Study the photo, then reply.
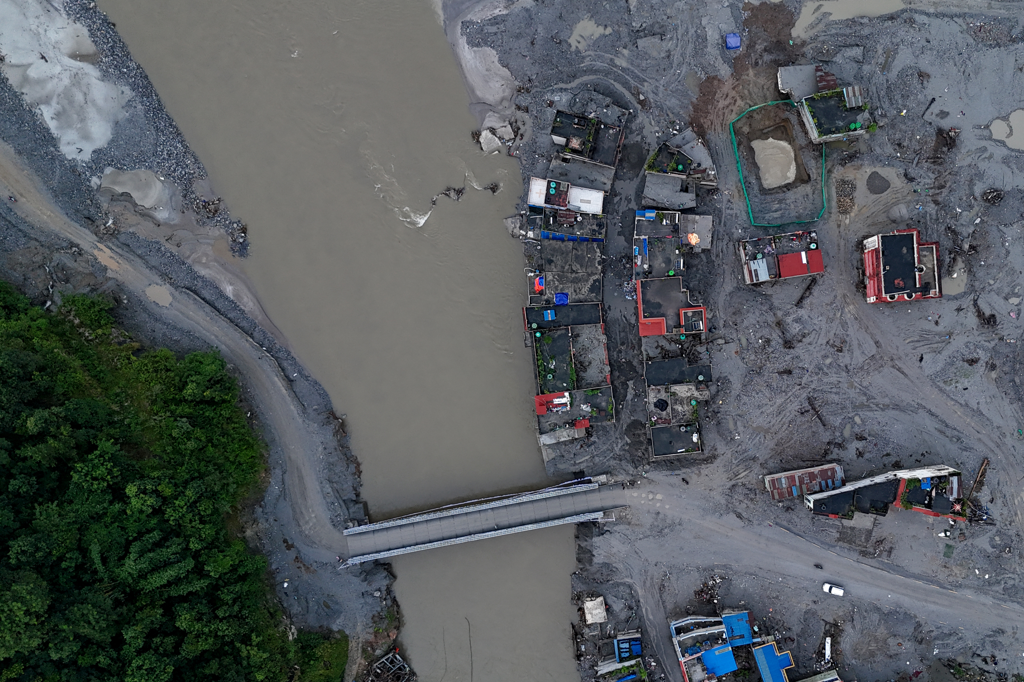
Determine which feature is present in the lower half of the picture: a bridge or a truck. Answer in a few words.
bridge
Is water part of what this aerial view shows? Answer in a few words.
Yes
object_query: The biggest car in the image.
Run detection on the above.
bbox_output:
[824,584,846,599]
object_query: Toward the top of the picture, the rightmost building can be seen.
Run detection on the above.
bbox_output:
[852,228,943,304]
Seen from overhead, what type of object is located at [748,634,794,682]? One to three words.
house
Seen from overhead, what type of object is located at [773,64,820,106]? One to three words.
house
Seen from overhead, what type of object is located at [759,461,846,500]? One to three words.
shed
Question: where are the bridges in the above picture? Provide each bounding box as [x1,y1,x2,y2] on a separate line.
[339,480,630,569]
